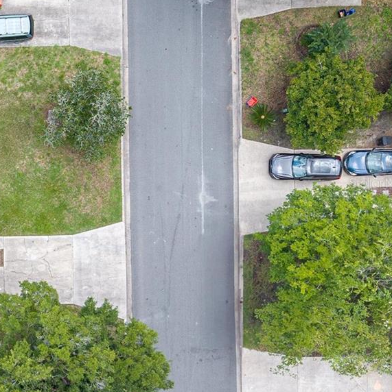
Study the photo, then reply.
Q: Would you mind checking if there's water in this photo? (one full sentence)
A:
No, the scene doesn't show any water.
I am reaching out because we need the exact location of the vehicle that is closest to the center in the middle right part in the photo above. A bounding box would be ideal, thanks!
[269,149,342,183]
